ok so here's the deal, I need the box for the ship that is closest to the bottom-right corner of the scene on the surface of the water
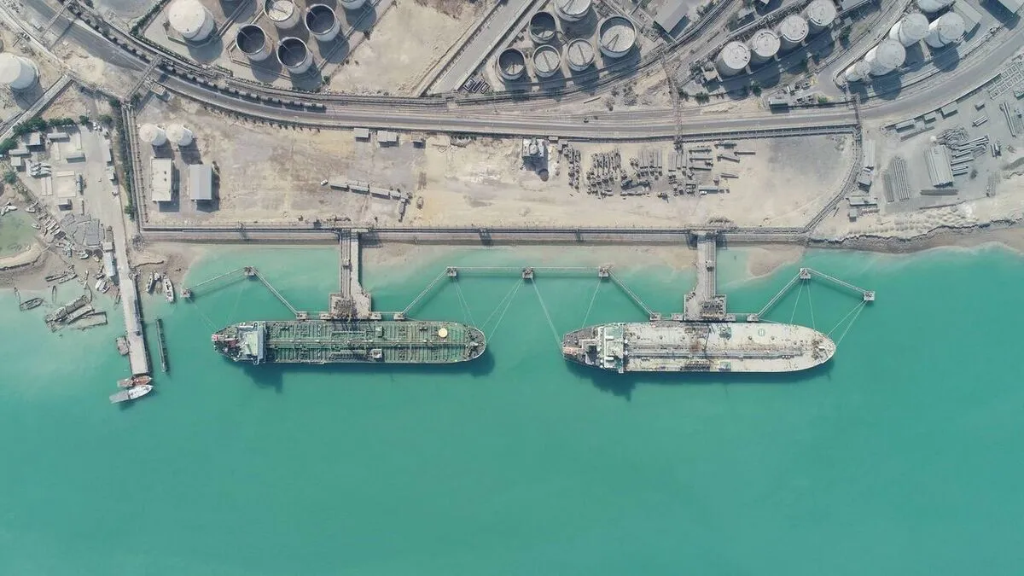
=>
[562,322,838,373]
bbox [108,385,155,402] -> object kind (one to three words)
boat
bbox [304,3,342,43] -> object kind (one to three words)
storage tank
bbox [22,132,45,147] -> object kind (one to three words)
building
